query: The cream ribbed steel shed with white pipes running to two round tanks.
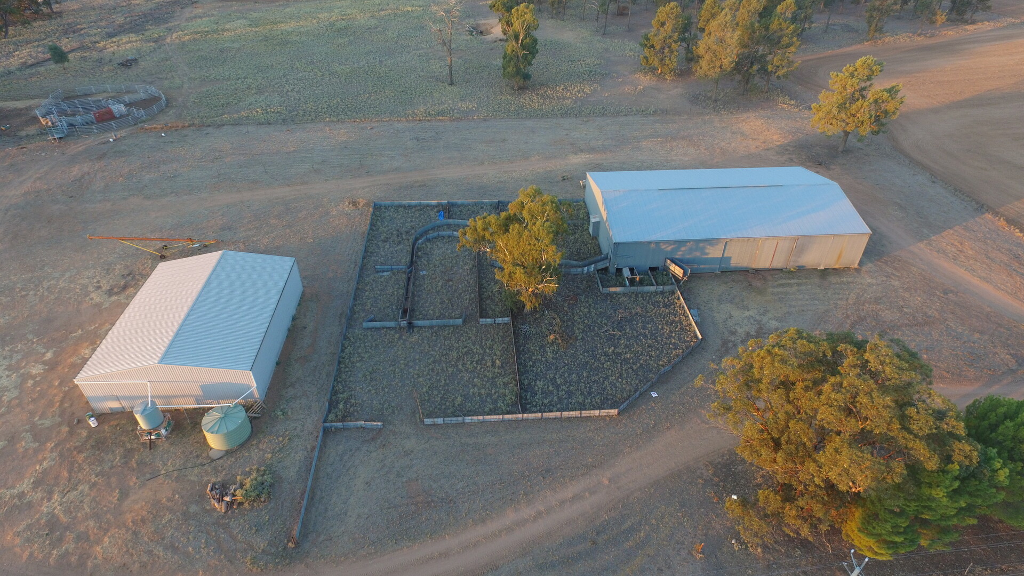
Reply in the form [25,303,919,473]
[72,250,303,414]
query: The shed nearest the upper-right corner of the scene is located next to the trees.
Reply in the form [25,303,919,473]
[575,165,874,275]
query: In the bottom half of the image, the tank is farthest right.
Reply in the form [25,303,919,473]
[202,402,252,450]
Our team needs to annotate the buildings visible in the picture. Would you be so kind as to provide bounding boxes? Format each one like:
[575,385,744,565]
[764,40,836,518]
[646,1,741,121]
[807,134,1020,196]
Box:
[575,165,874,275]
[72,250,303,414]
